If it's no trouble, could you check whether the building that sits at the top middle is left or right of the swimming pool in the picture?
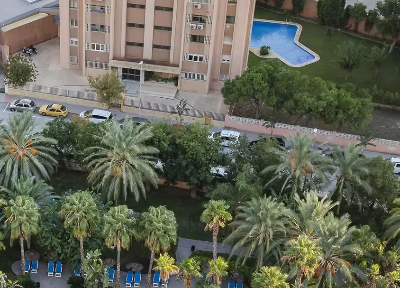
to the left of it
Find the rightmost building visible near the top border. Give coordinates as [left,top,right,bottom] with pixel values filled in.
[60,0,273,107]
